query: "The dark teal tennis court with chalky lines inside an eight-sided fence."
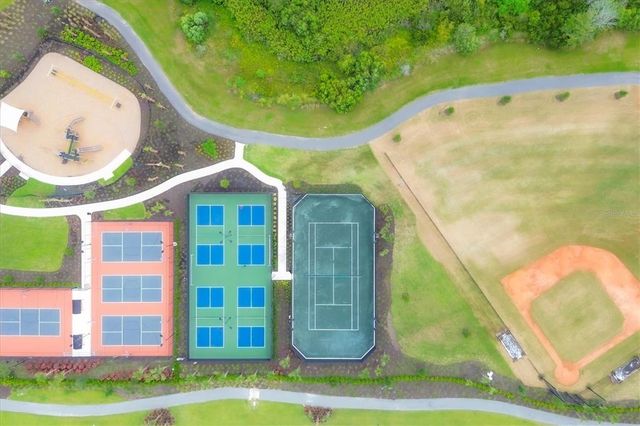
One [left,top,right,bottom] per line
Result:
[293,195,374,359]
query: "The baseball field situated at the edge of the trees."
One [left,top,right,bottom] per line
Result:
[370,84,640,400]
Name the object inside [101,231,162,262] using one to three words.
sports court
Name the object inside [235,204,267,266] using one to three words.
sports court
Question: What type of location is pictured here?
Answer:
sports ground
